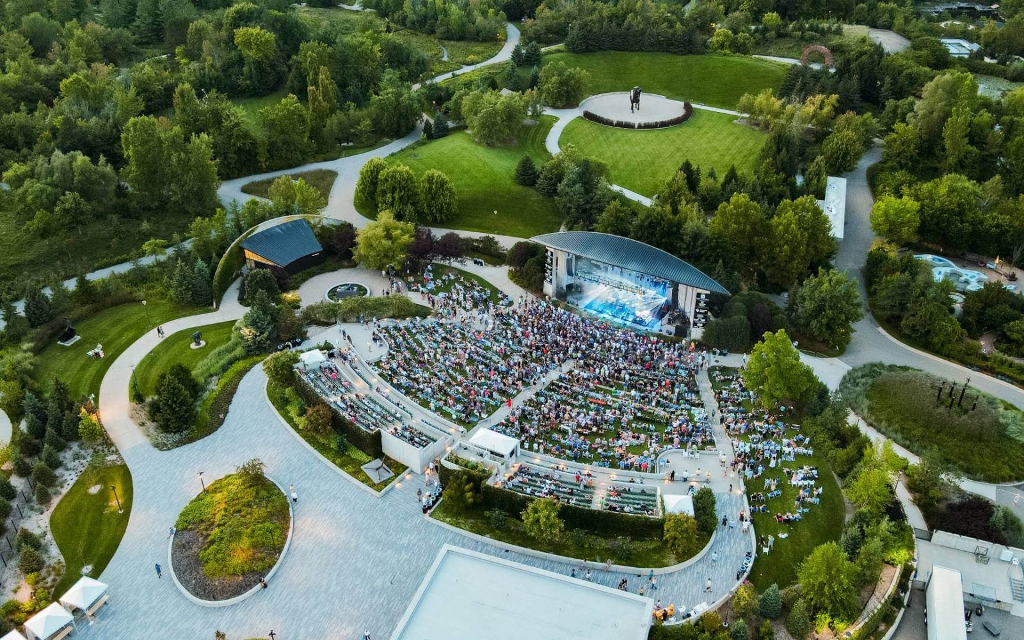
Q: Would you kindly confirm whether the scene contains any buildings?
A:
Yes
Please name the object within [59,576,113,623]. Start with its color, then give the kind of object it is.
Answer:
white tent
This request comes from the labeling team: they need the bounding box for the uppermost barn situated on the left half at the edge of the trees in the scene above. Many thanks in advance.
[241,218,323,286]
